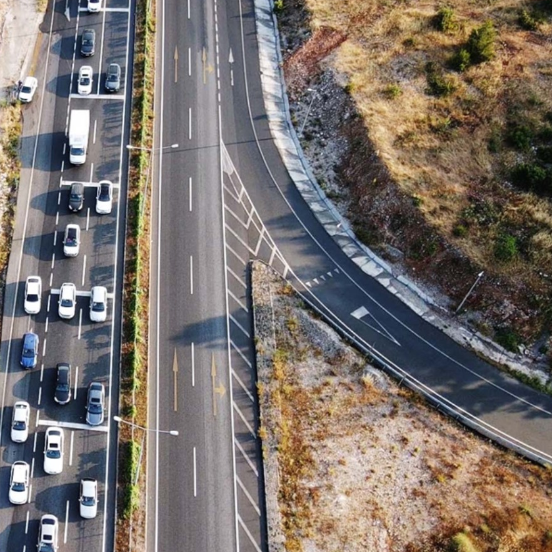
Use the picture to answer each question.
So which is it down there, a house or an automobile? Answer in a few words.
automobile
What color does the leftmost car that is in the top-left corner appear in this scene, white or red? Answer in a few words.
white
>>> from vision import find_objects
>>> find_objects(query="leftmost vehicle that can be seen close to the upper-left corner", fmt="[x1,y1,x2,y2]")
[16,77,39,103]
